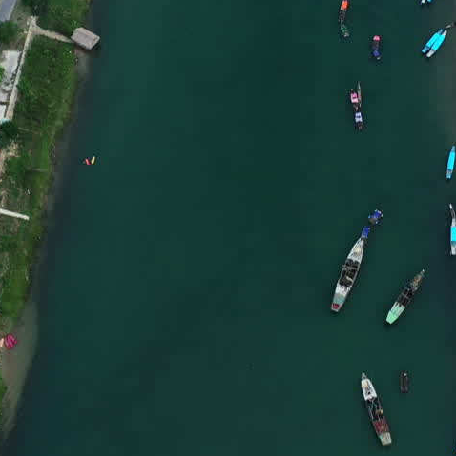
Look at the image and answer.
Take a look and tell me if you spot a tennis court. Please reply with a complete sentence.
No, there's no tennis court here.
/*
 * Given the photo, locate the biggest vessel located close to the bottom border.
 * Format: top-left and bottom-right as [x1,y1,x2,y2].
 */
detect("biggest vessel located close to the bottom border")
[363,371,392,446]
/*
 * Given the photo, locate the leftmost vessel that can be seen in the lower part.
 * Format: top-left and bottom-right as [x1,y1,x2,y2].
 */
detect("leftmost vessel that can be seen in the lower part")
[330,236,364,313]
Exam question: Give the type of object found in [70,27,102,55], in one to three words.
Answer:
shed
